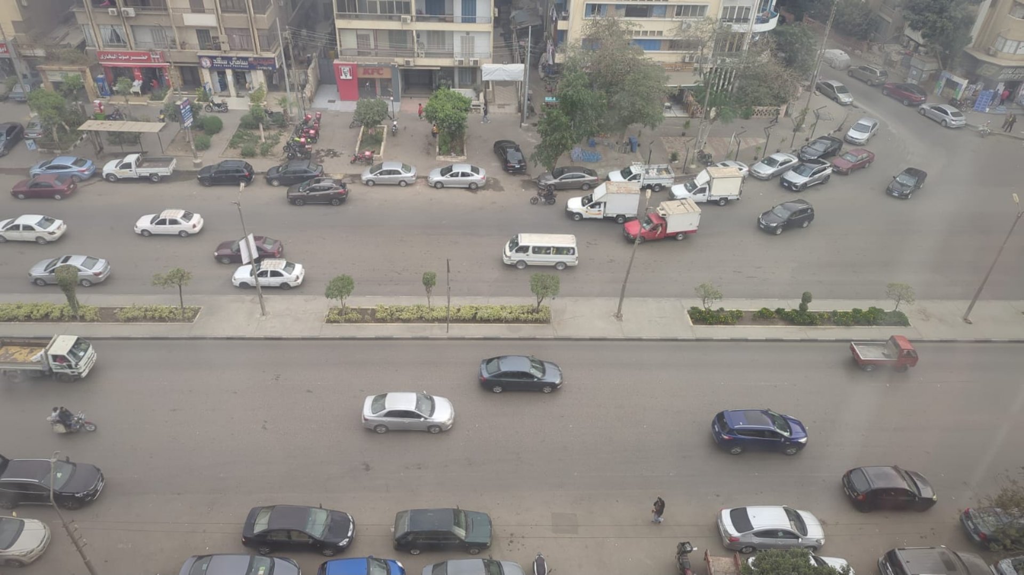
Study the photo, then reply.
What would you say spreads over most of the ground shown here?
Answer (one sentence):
What you mostly see from above here is paved ground.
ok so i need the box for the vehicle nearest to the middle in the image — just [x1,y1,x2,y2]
[505,231,579,270]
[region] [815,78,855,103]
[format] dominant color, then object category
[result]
gray car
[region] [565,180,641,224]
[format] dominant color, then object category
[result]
white truck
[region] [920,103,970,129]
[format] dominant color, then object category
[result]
gray car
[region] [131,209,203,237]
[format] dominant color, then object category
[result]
white car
